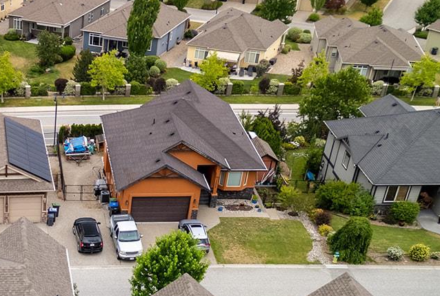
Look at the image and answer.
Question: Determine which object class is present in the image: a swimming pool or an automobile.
automobile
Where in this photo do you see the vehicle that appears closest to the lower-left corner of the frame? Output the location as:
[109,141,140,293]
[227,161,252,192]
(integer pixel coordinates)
[71,217,107,251]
